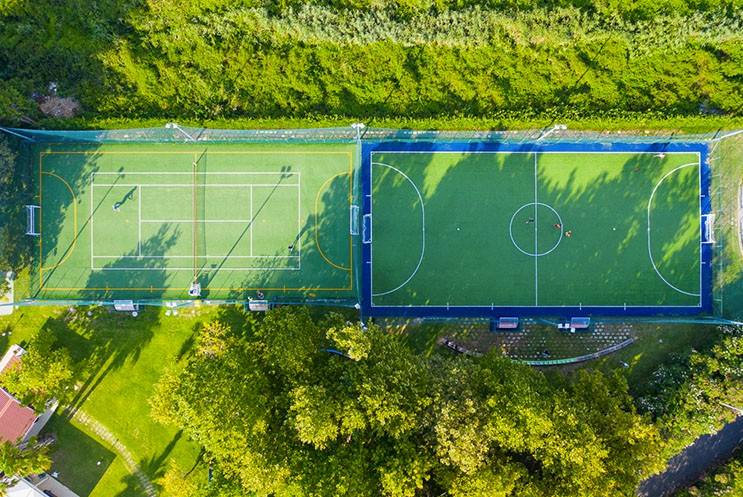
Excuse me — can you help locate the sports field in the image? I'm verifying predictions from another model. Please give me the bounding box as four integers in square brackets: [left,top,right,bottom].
[361,141,712,317]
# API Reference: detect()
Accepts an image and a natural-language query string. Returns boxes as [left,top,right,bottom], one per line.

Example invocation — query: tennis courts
[36,141,359,300]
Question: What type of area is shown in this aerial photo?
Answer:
sports ground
